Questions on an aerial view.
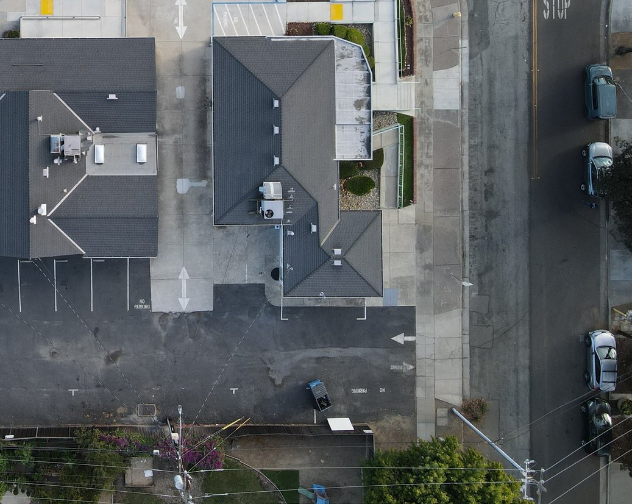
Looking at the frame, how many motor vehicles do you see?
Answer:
4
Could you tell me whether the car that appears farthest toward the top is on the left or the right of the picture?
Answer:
right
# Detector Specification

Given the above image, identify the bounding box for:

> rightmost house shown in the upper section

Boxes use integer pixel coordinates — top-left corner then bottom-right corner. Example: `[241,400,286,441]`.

[211,35,384,299]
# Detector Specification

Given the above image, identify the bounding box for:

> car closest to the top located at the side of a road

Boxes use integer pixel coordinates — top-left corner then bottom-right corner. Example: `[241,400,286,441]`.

[584,63,618,119]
